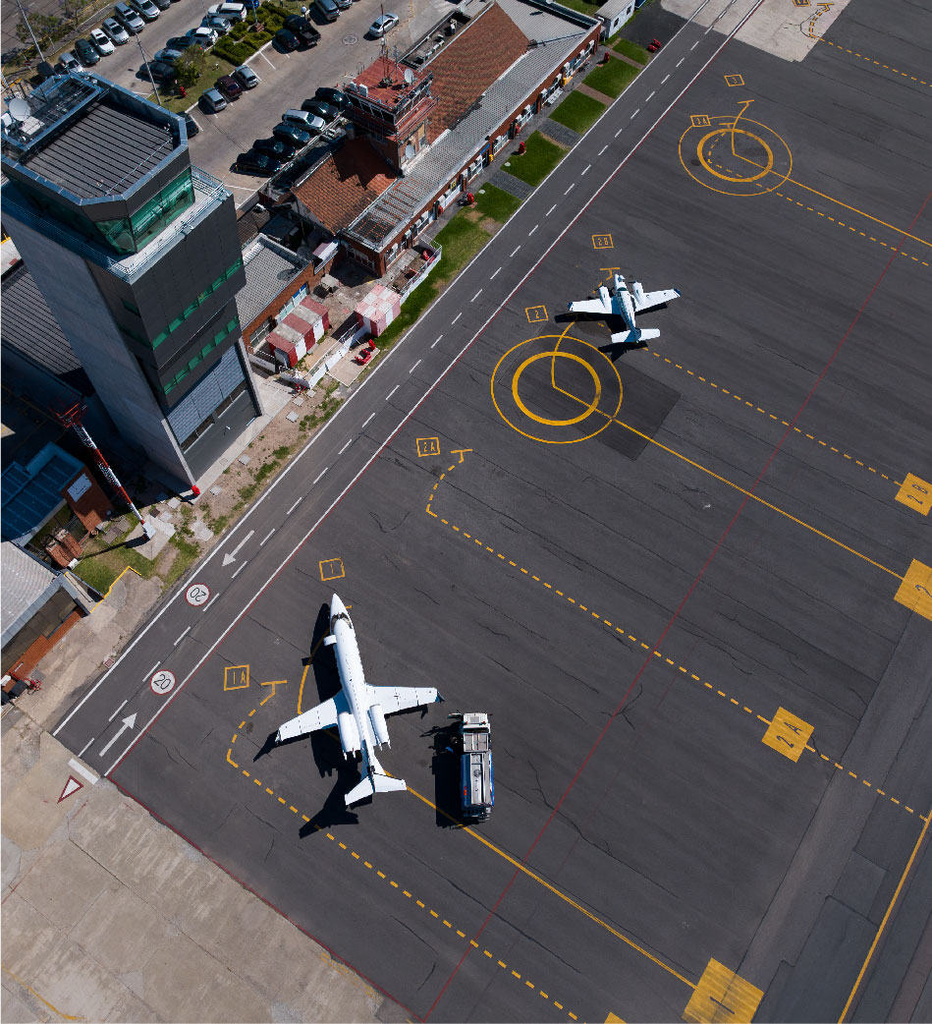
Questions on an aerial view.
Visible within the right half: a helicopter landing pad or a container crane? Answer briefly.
helicopter landing pad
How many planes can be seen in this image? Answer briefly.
2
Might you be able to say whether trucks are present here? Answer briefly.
Yes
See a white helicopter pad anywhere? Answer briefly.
No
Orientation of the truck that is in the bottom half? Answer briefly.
vertically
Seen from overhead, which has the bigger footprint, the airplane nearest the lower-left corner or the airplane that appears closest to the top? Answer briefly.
the airplane nearest the lower-left corner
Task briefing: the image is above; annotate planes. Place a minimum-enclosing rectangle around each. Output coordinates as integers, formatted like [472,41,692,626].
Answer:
[276,594,443,805]
[567,271,683,343]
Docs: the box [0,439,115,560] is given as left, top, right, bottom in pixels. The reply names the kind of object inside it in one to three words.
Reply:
building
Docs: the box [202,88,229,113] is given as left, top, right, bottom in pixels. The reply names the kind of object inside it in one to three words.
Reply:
car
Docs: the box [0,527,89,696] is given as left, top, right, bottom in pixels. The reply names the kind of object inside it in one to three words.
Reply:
shed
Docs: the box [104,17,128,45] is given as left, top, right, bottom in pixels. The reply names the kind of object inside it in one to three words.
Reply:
car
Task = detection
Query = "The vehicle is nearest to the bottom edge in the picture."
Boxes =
[450,714,495,824]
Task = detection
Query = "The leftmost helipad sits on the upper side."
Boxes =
[491,334,623,444]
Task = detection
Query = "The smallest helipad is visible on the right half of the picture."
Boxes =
[679,115,792,196]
